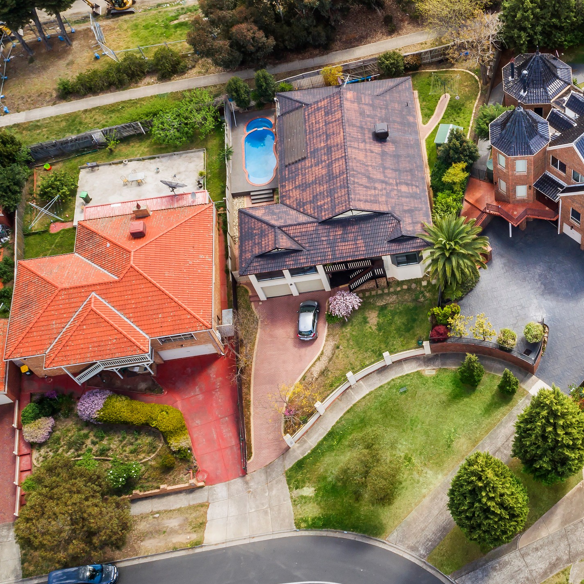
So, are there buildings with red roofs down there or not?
Yes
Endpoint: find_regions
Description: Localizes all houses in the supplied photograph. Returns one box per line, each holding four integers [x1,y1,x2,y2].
[238,71,438,300]
[439,43,584,238]
[2,196,225,392]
